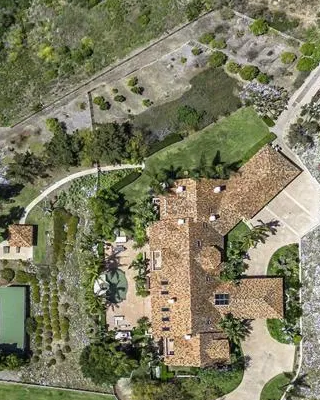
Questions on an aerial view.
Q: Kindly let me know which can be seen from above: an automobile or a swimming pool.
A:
swimming pool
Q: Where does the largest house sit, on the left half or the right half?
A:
right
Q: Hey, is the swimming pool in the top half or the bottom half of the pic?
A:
bottom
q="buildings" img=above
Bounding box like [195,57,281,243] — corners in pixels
[149,142,303,367]
[9,225,32,246]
